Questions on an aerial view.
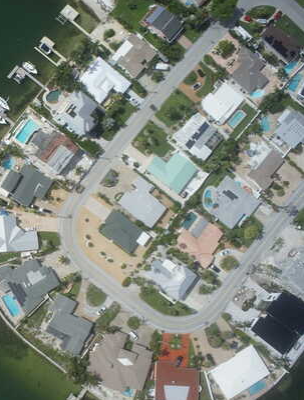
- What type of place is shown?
residential area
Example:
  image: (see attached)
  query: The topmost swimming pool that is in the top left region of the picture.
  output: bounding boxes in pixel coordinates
[47,89,61,104]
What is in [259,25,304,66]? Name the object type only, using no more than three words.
house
